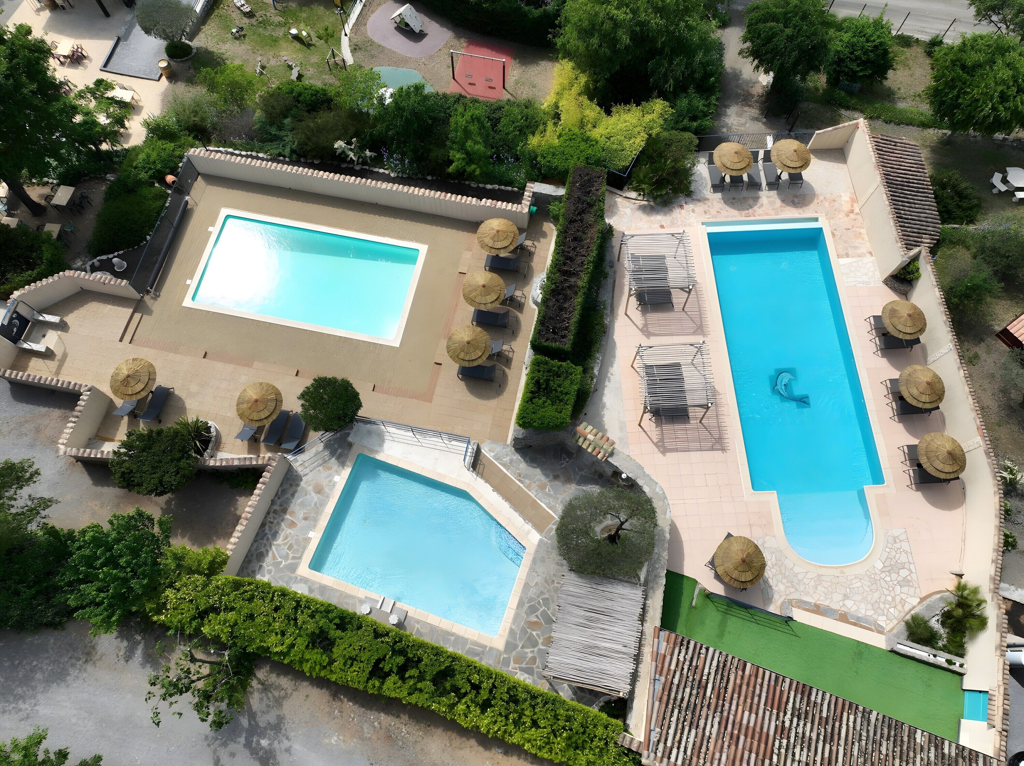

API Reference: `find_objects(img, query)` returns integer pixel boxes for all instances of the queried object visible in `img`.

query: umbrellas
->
[905,437,964,482]
[235,384,283,429]
[872,302,923,347]
[114,361,161,403]
[712,145,751,193]
[463,274,508,313]
[770,144,810,191]
[475,220,518,262]
[711,534,761,585]
[446,329,493,373]
[888,369,940,411]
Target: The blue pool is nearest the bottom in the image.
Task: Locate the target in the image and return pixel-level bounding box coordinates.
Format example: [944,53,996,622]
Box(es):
[295,443,540,651]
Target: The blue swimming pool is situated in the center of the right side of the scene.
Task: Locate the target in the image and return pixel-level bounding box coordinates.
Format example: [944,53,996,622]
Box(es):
[699,213,896,574]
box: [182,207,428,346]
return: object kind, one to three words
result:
swimming pool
